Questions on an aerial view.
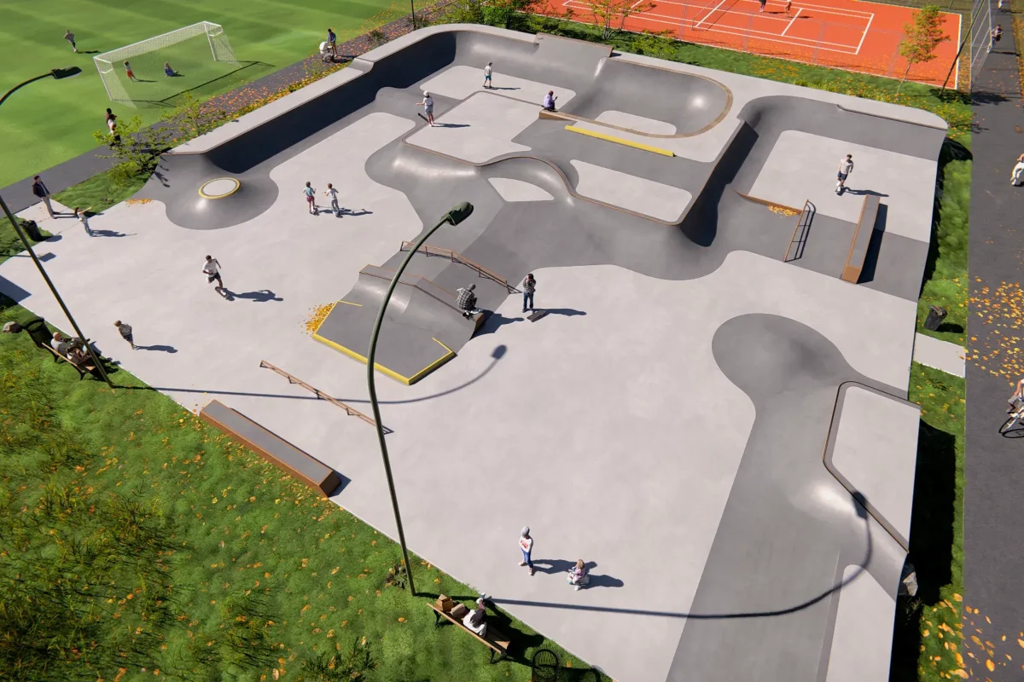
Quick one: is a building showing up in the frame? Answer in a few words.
No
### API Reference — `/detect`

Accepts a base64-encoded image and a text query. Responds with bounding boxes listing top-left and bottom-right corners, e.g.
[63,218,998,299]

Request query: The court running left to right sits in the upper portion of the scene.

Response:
[449,0,962,89]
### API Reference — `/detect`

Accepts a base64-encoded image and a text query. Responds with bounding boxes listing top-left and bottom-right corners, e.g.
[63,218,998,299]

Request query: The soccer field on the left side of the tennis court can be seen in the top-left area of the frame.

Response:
[0,0,424,185]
